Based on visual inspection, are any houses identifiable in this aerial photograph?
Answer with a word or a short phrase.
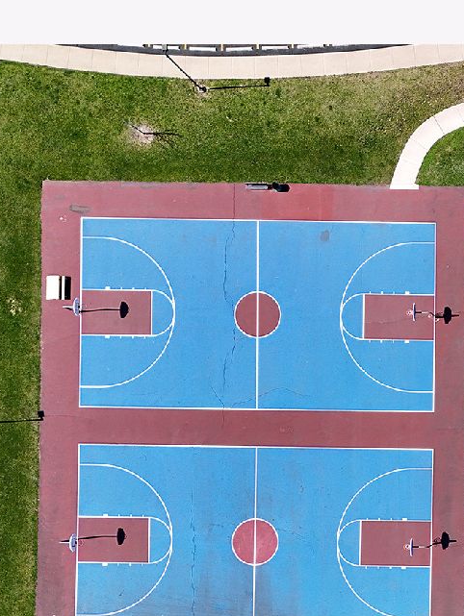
No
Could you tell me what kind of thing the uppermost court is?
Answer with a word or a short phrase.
basketball court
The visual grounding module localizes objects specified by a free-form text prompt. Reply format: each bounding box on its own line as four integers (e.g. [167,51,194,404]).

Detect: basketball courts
[75,445,434,616]
[79,218,436,413]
